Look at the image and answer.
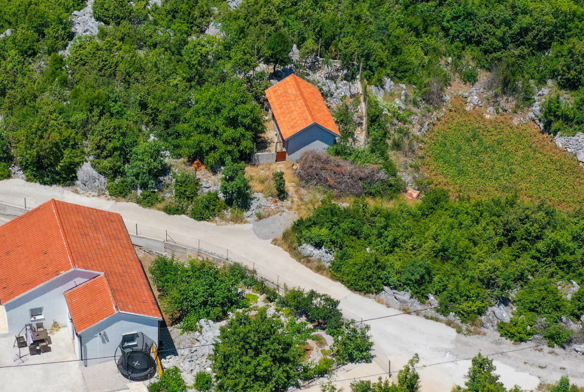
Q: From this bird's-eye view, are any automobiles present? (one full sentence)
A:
No, the photo shows no automobile.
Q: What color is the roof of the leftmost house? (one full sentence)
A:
The roof over the leftmost house appears orange.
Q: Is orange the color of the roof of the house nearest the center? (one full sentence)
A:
Yes, the roof of the house nearest the center is orange.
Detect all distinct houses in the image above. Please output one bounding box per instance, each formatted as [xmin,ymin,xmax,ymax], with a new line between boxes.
[0,200,164,366]
[260,73,342,163]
